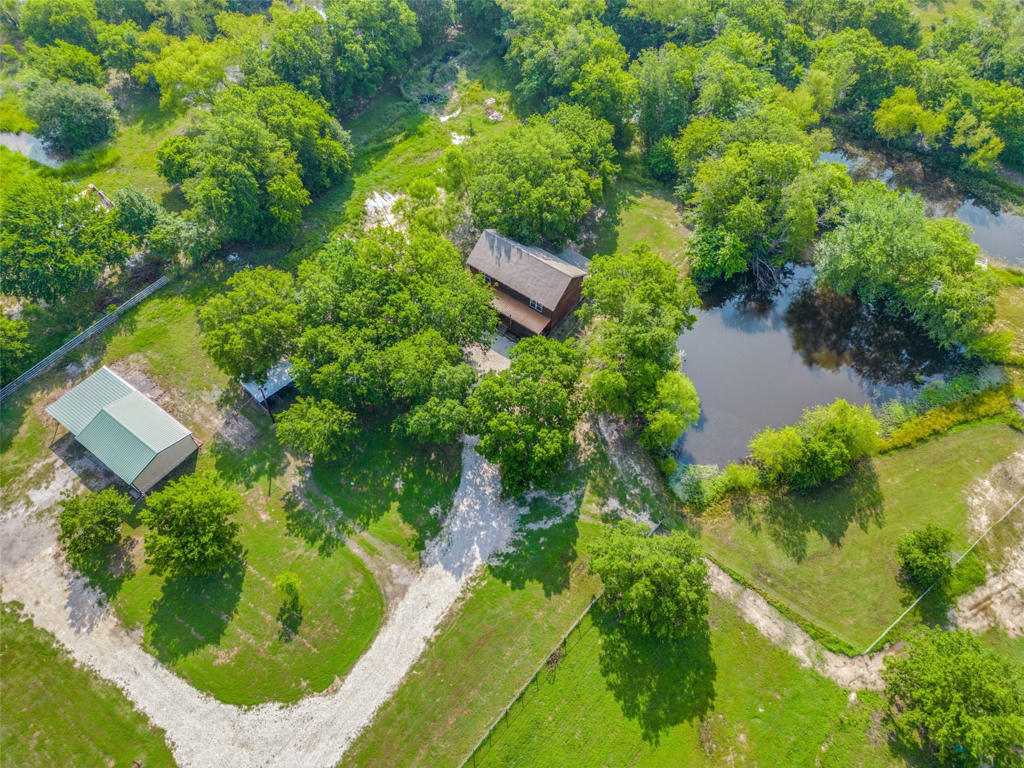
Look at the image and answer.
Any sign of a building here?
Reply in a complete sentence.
Yes, the picture does show a building.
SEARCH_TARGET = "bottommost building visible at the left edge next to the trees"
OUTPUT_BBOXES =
[44,366,198,496]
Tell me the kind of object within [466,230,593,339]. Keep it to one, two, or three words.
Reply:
house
